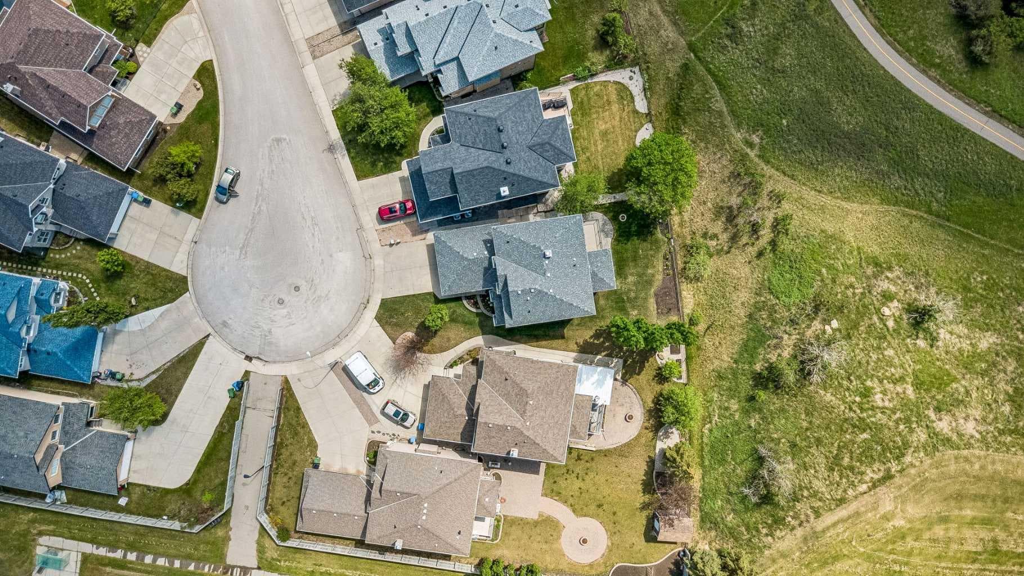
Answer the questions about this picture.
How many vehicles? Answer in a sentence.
The number of vehicles here is 4.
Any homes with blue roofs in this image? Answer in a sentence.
Yes, you can see a home with a blue roof in this photo.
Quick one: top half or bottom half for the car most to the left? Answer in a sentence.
It is in the top half that the car most to the left appears.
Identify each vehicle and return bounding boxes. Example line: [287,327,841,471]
[343,349,385,393]
[375,198,417,221]
[379,398,418,427]
[215,165,241,204]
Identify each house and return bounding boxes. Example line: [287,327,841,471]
[423,348,593,465]
[0,386,138,496]
[0,269,110,384]
[356,0,552,99]
[296,440,501,558]
[405,86,577,223]
[0,0,165,172]
[0,131,139,255]
[433,214,617,328]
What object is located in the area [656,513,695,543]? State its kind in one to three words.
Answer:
shed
